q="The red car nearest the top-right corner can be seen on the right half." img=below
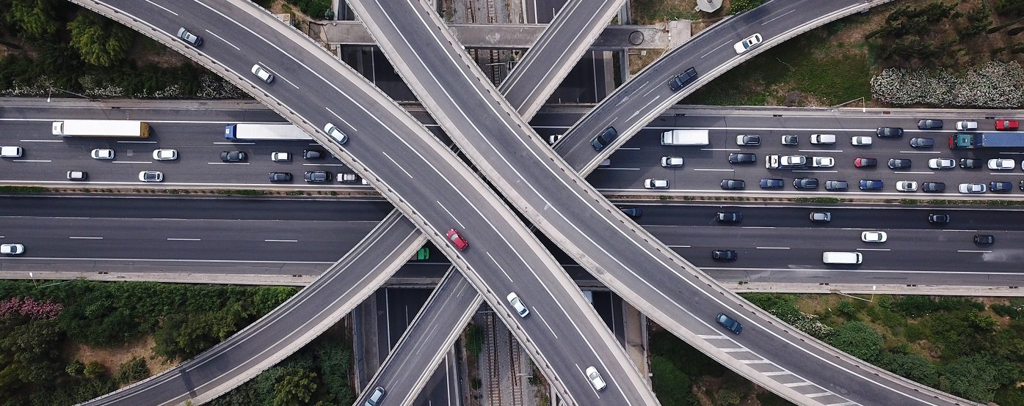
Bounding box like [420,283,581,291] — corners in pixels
[993,118,1020,130]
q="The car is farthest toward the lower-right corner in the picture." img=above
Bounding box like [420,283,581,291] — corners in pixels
[972,234,994,246]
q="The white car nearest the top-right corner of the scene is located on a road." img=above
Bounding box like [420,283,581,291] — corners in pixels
[954,119,978,131]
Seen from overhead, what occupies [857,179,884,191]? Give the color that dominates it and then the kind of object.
blue vehicle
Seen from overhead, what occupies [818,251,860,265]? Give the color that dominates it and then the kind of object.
white vehicle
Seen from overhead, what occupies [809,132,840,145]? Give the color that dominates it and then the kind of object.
white vehicle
